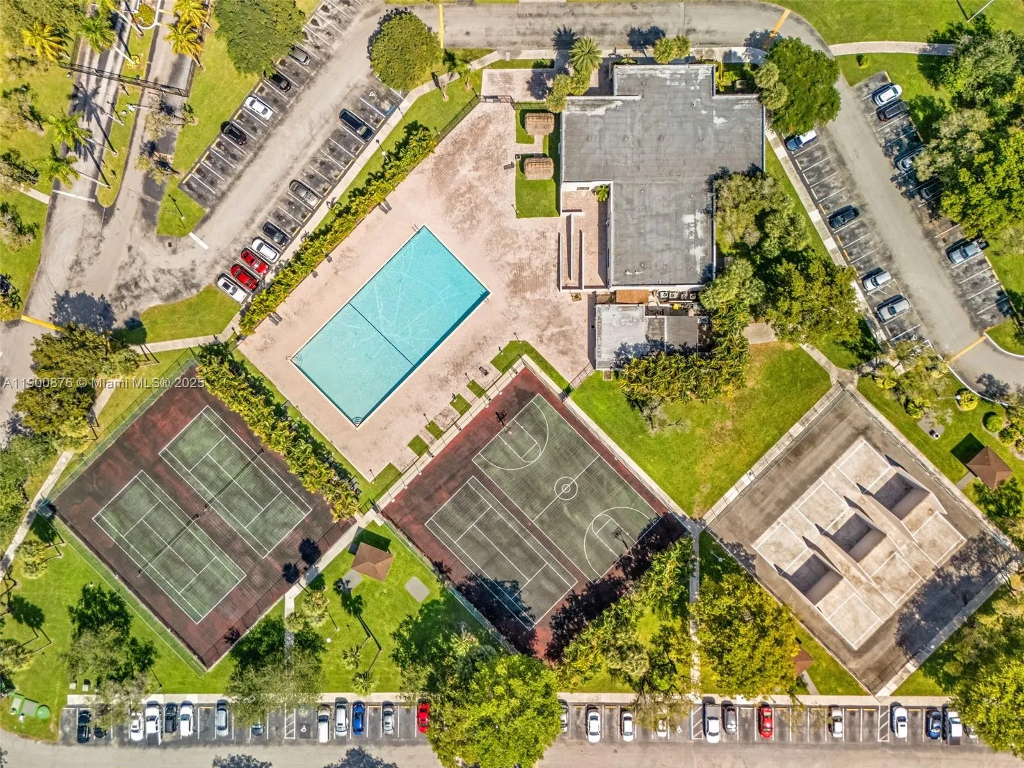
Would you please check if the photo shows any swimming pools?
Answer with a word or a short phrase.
Yes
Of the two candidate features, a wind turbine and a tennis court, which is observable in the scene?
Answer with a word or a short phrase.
tennis court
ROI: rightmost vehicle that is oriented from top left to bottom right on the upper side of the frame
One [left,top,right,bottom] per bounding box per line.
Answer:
[341,111,372,140]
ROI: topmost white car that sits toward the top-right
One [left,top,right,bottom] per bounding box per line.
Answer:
[871,84,902,107]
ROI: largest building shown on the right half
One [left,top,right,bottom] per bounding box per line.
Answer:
[560,58,764,290]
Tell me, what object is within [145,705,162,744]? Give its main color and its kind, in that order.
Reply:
white vehicle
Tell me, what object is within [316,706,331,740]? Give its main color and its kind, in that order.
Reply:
white vehicle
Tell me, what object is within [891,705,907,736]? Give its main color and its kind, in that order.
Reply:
white car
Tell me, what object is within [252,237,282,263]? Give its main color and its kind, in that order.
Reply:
white car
